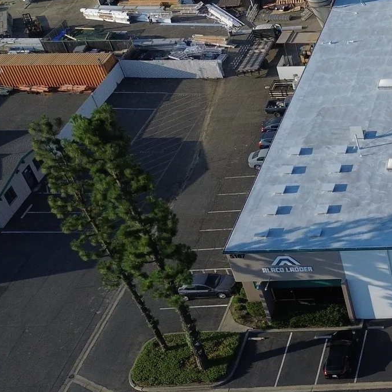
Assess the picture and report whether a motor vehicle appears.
Yes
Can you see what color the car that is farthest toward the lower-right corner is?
black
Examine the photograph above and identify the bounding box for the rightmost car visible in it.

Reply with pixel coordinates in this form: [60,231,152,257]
[323,325,361,380]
